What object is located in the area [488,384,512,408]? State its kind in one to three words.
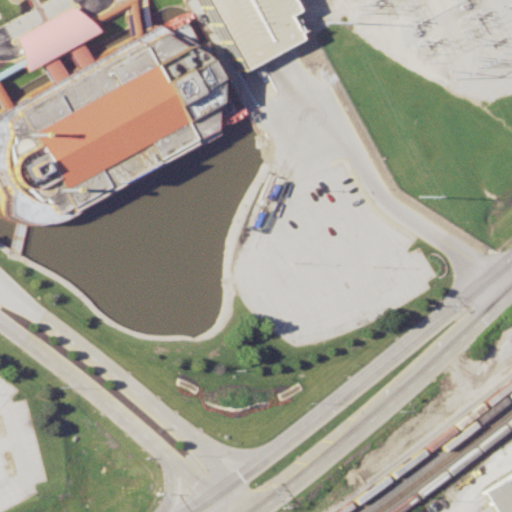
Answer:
rail car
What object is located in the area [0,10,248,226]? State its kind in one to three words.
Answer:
building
